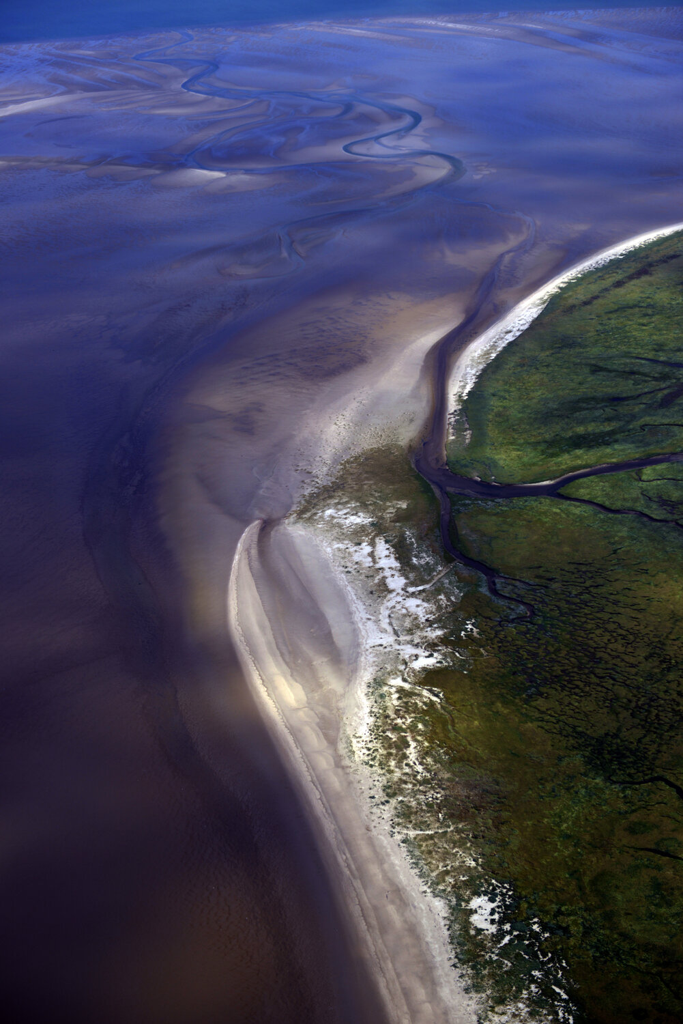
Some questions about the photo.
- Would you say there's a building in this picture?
No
